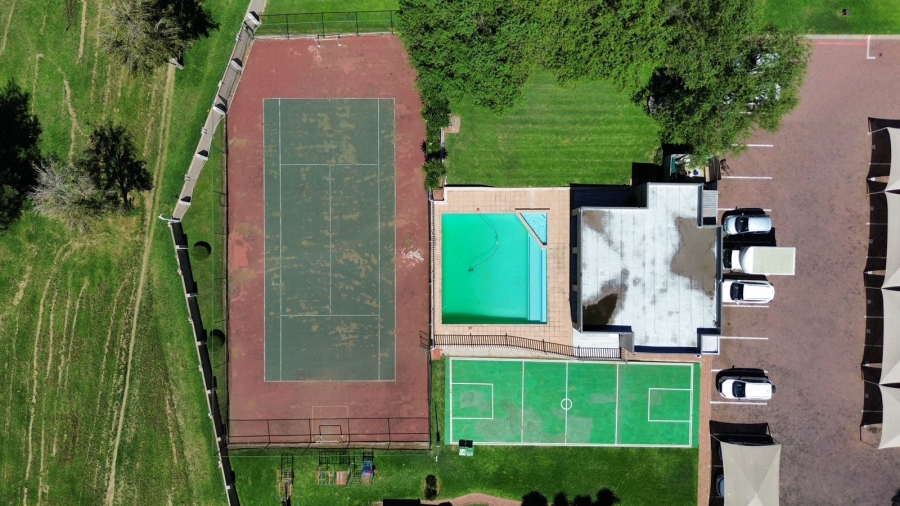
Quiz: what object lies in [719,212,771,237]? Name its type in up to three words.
car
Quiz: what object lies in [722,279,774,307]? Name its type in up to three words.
car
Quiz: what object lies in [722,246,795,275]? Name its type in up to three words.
truck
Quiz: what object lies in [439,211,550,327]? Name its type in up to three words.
swimming pool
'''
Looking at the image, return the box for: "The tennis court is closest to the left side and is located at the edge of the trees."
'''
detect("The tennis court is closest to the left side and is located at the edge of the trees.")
[226,35,433,449]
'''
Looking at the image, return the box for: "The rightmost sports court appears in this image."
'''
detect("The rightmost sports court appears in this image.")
[446,357,700,447]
